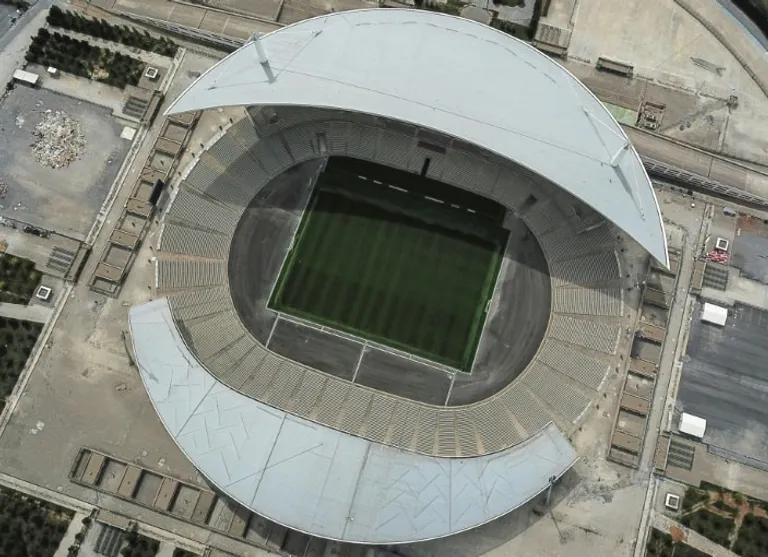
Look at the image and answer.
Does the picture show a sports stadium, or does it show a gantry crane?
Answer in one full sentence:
There is a sports stadium in the scene.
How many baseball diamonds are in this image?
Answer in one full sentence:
The picture shows no baseball diamonds.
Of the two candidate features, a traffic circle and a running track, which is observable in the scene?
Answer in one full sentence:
The one in the frame is a running track.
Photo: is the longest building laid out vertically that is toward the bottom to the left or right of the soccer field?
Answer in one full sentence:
The longest building laid out vertically that is toward the bottom is to the right of the soccer field.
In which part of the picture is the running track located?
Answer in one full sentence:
The running track is located in the center region of the scene.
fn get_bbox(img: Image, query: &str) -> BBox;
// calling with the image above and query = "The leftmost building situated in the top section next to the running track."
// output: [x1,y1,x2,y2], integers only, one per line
[87,76,201,298]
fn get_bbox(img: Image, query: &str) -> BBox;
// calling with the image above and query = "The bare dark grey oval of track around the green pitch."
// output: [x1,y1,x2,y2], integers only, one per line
[228,157,550,405]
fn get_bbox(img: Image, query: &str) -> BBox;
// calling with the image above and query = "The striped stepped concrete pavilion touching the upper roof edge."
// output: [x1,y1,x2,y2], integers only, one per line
[530,18,573,61]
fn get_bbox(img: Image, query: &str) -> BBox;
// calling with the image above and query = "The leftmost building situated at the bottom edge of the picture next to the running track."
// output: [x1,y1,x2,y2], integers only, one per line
[68,448,395,557]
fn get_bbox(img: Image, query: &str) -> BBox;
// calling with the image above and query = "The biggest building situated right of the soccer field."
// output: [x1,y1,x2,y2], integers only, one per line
[606,216,688,467]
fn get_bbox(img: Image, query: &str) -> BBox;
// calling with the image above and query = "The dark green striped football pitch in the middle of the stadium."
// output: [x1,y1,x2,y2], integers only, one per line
[268,157,510,373]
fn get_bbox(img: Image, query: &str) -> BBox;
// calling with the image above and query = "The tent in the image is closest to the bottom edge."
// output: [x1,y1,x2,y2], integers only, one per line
[678,411,709,438]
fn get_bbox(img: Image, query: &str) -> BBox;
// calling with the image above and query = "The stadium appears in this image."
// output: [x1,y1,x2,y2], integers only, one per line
[130,8,668,541]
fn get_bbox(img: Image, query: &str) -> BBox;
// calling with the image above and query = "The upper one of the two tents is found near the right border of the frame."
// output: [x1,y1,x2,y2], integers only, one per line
[703,301,730,326]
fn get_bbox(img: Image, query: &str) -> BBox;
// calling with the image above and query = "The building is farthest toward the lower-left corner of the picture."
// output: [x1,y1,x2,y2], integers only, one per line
[90,508,131,532]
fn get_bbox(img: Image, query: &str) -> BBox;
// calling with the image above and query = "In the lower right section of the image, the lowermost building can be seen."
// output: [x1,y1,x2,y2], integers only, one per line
[653,436,675,472]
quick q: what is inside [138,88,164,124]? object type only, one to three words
building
